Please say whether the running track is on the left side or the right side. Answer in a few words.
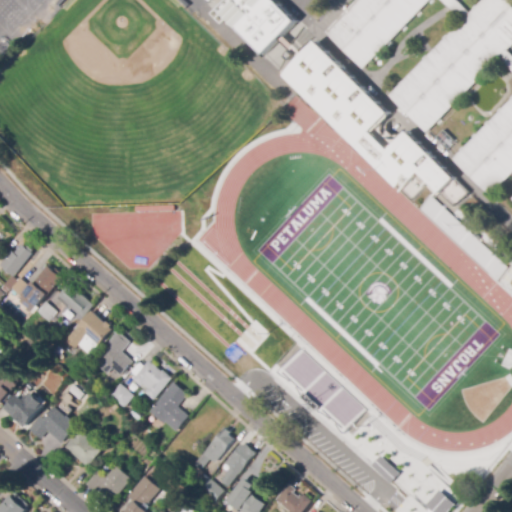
right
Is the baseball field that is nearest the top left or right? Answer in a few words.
left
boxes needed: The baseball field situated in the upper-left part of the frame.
[0,0,270,206]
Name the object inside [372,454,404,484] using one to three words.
building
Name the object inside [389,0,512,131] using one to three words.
building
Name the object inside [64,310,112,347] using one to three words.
house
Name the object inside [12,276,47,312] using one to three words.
house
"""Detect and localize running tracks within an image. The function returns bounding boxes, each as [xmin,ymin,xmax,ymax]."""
[198,95,512,450]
